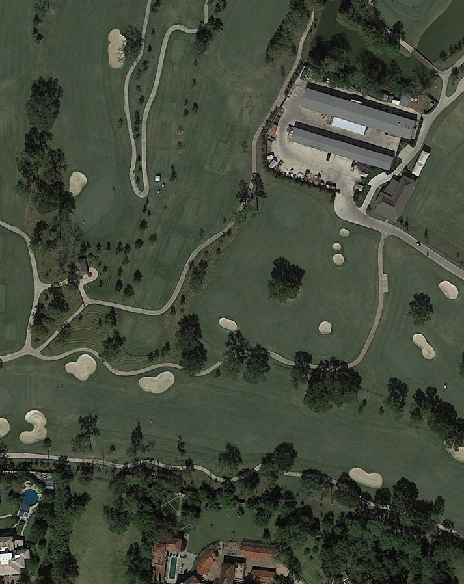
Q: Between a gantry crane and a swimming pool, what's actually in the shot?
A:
swimming pool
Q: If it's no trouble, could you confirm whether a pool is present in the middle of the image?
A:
No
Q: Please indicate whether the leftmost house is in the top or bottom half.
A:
bottom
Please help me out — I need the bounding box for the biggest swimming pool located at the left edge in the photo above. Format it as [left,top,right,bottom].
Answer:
[17,487,41,518]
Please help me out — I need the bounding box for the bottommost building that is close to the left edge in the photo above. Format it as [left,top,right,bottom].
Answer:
[0,536,32,584]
